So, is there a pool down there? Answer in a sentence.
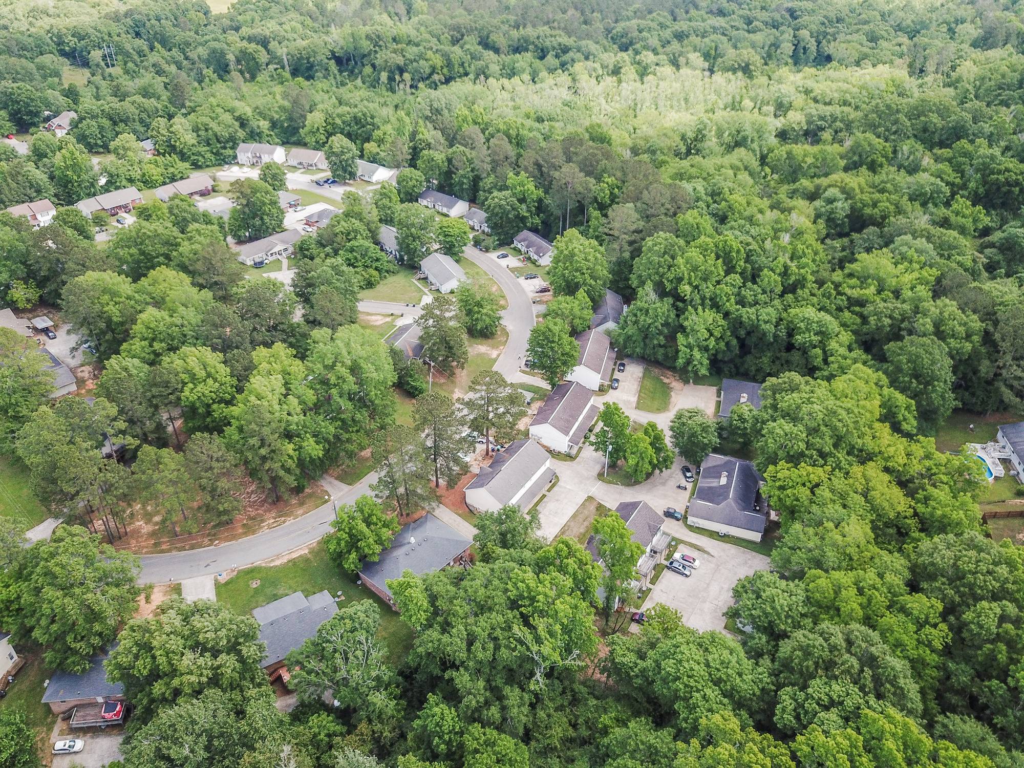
Yes, the image includes a pool.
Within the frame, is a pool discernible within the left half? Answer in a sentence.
No, no pool can be made out within the left half.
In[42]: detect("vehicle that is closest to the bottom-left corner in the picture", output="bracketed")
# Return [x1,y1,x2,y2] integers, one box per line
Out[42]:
[52,738,84,755]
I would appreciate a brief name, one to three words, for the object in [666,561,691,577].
car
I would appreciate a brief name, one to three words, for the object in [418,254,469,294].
house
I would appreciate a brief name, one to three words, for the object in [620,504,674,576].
house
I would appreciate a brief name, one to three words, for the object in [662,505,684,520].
car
